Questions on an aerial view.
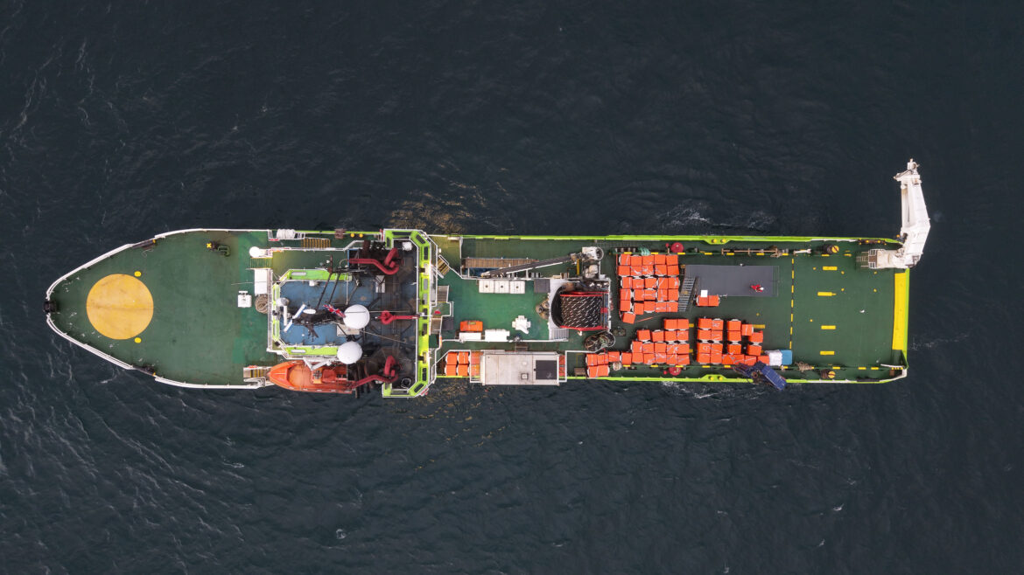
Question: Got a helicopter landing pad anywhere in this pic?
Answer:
Yes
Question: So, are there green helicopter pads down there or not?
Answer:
No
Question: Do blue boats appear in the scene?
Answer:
No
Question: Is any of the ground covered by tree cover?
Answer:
No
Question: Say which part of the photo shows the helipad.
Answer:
left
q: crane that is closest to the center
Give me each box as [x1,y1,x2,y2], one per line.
[481,247,605,277]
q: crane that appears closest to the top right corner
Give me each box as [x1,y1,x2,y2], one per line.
[856,158,930,269]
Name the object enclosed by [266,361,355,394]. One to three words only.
boat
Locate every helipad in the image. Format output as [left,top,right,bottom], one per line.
[87,273,153,339]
